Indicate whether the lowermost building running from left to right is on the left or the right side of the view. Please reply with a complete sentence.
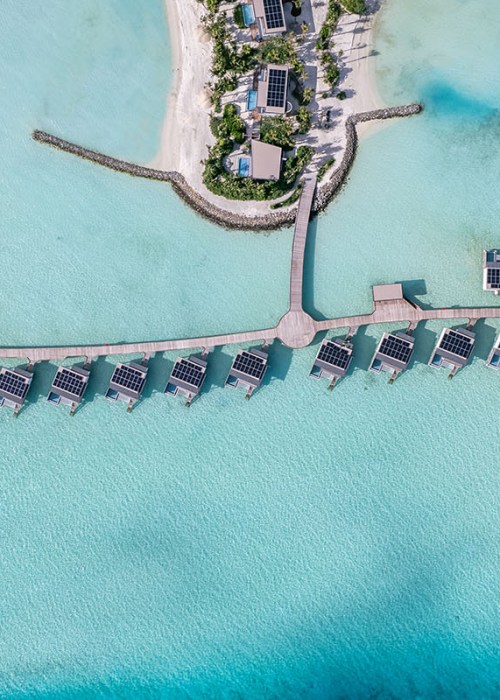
The lowermost building running from left to right appears in the right half of the scene.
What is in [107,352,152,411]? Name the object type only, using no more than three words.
house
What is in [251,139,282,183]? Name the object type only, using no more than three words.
house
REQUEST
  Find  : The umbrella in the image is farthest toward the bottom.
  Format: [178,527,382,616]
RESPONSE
[198,92,213,107]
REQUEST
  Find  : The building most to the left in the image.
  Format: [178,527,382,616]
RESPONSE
[0,358,38,415]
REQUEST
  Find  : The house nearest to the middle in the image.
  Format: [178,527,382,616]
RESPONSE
[227,338,272,398]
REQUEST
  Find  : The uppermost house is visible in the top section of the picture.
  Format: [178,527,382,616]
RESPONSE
[249,0,286,44]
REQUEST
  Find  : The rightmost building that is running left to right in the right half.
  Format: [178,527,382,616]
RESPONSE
[371,283,421,310]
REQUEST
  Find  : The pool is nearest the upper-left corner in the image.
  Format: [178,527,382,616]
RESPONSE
[240,3,256,28]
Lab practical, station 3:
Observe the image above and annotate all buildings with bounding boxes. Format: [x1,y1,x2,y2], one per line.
[249,0,286,44]
[477,252,500,297]
[51,356,94,414]
[427,317,477,376]
[310,325,358,387]
[107,352,152,411]
[371,283,421,310]
[166,345,211,405]
[250,65,292,121]
[251,139,282,183]
[0,358,38,415]
[368,320,417,381]
[227,338,272,398]
[484,327,500,366]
